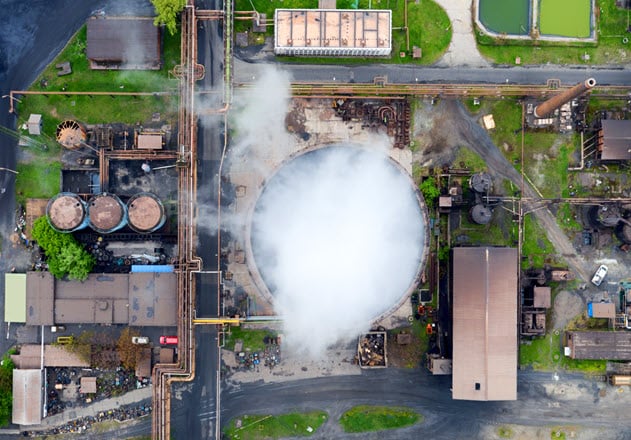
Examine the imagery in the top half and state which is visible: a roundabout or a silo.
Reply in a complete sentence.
There is a silo in the top half.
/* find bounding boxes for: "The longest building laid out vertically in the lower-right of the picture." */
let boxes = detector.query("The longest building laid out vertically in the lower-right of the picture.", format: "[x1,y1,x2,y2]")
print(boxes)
[446,248,520,402]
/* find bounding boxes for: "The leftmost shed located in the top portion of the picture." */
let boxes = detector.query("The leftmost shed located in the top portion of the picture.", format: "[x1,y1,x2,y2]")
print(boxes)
[26,113,46,136]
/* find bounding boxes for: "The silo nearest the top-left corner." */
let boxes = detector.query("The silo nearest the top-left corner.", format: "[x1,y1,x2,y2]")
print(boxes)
[57,120,100,157]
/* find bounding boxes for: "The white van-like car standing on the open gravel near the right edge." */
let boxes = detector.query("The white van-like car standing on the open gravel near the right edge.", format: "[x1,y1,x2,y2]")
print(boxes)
[589,264,609,286]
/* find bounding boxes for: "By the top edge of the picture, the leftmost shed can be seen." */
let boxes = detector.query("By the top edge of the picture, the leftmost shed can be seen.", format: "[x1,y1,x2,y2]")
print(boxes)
[86,16,162,68]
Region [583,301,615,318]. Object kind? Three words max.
building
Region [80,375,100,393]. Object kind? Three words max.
shed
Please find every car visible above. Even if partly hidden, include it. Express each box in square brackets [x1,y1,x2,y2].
[132,335,150,344]
[589,264,609,286]
[160,335,178,344]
